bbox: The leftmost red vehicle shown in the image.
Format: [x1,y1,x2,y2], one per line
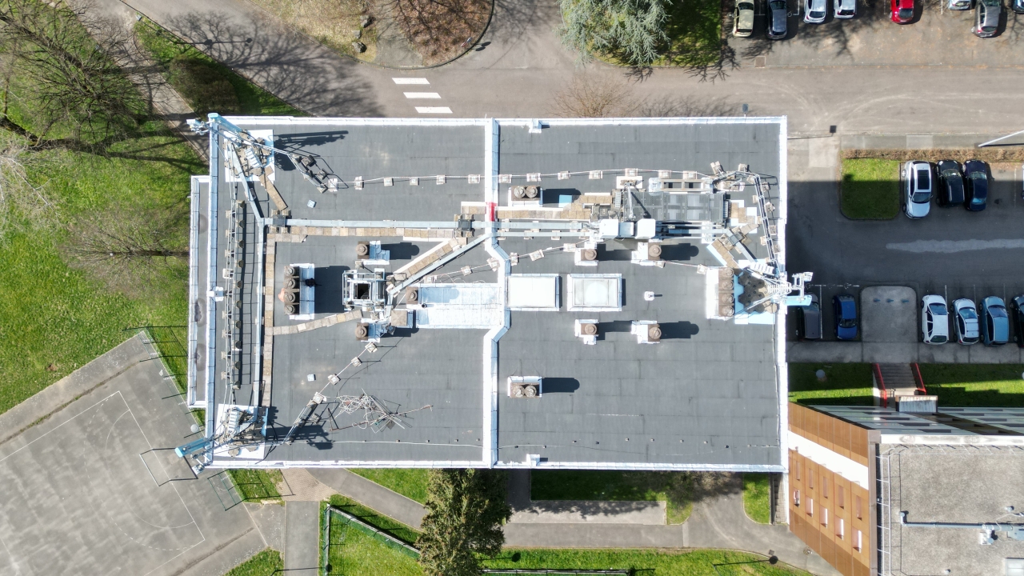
[887,0,912,25]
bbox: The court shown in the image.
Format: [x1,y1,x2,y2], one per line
[0,333,276,576]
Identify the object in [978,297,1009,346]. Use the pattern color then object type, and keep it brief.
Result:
blue car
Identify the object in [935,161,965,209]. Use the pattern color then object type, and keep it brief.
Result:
black car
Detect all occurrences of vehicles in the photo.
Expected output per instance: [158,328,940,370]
[887,0,912,25]
[971,0,1003,39]
[978,297,1009,346]
[800,0,824,26]
[1010,297,1024,347]
[795,294,822,343]
[919,296,949,345]
[902,163,934,219]
[732,0,756,39]
[763,0,790,42]
[948,299,978,344]
[935,161,965,209]
[961,161,990,214]
[831,296,858,340]
[828,0,853,21]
